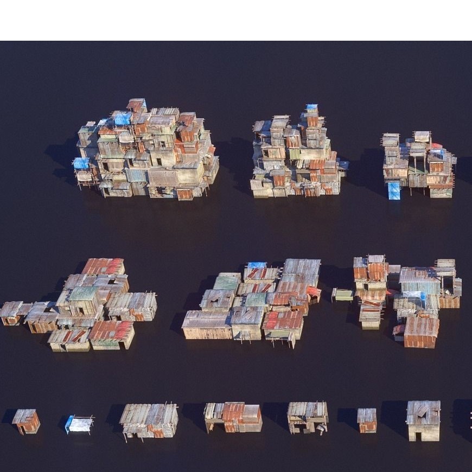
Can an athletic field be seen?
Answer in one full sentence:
No, I can see no athletic field in this picture.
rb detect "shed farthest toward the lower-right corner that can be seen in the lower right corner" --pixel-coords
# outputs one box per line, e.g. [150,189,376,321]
[406,399,444,441]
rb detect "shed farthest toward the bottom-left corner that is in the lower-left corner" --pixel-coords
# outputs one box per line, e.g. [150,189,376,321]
[10,408,41,437]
